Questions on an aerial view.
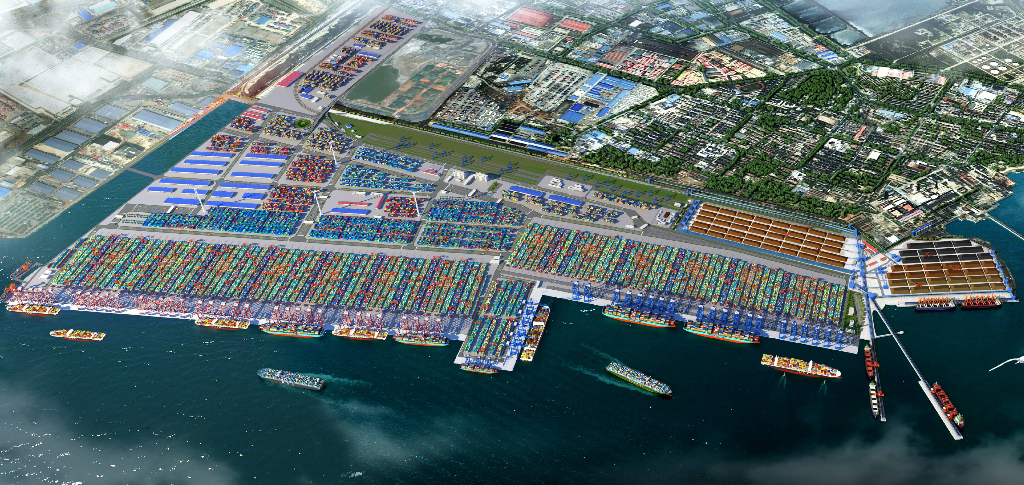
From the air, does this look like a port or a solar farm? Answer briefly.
port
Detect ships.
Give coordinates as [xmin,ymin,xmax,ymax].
[459,365,498,375]
[963,300,1003,308]
[684,322,761,345]
[332,329,387,342]
[864,345,874,378]
[194,320,249,331]
[916,302,957,310]
[762,357,842,380]
[257,370,323,391]
[49,330,104,343]
[869,382,879,416]
[935,383,965,427]
[258,326,323,339]
[607,363,671,396]
[521,307,547,363]
[603,307,677,328]
[392,337,448,349]
[5,306,58,318]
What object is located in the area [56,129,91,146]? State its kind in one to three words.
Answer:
building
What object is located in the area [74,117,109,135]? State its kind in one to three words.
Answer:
building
